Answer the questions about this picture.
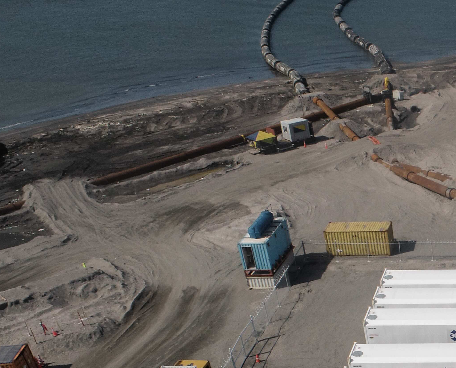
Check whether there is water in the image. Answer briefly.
Yes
